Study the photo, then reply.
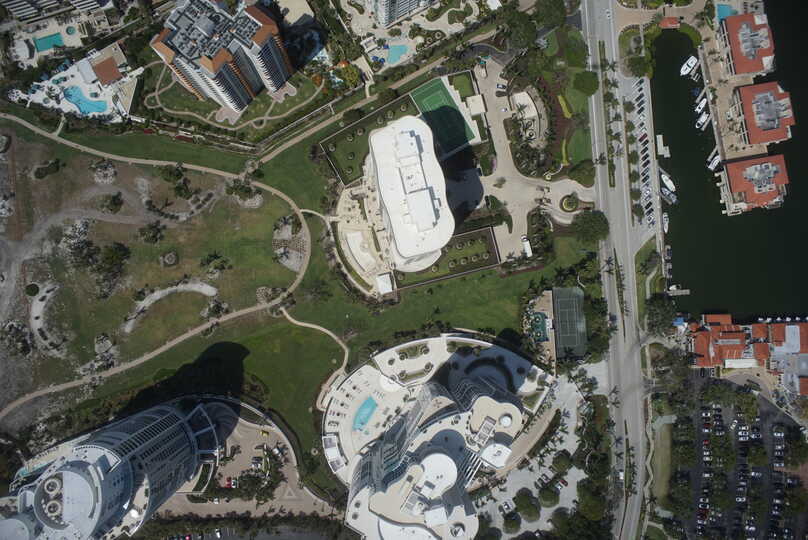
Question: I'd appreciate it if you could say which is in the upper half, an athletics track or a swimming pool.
swimming pool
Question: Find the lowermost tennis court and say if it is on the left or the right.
right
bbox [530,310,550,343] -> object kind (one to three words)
swimming pool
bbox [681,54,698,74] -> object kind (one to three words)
boat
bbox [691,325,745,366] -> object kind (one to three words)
building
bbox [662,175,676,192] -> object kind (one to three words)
boat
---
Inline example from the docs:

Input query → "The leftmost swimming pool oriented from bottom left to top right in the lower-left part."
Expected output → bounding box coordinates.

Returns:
[14,456,56,483]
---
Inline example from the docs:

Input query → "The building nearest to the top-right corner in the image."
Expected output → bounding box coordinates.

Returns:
[716,13,775,78]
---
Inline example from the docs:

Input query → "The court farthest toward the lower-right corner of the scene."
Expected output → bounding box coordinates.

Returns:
[555,287,587,359]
